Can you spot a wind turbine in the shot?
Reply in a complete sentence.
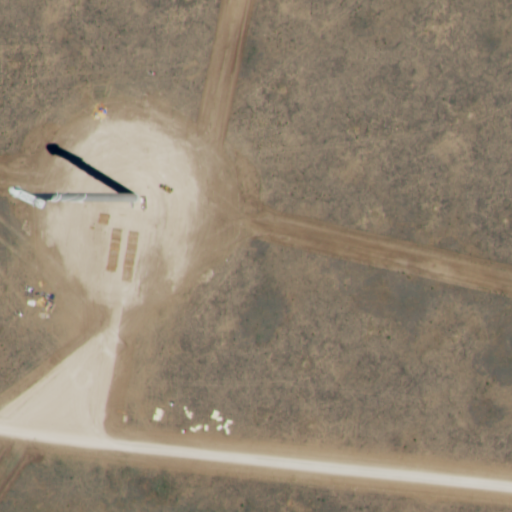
Yes, the photo shows a wind turbine.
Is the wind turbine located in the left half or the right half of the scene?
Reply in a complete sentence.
The wind turbine sits on the left side.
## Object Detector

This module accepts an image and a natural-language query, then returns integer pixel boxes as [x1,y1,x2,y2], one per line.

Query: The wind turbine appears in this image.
[8,184,140,210]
